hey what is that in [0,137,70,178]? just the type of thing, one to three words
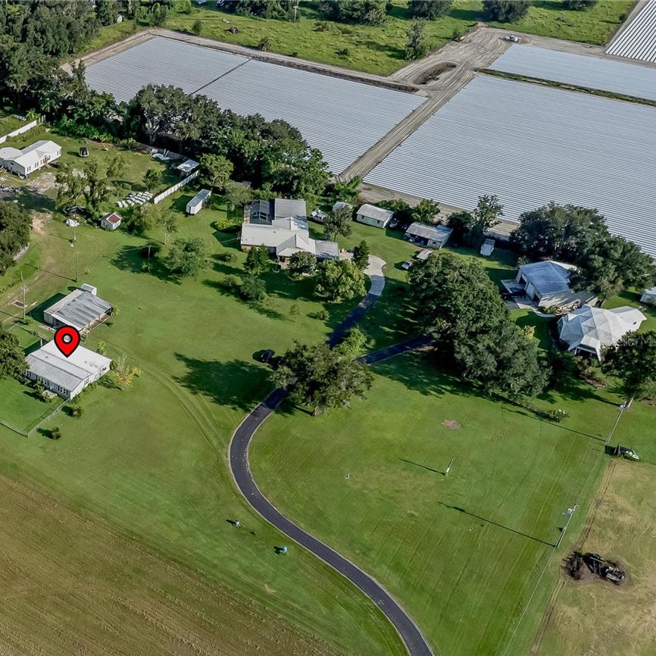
house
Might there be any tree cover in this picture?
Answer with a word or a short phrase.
Yes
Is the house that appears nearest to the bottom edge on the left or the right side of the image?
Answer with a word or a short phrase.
left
